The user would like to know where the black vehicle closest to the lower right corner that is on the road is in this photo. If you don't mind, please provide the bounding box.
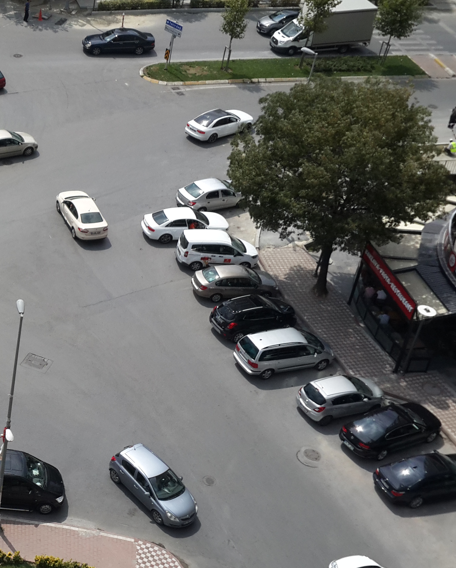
[370,446,456,510]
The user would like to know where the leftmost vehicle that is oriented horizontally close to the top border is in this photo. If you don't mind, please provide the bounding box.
[80,28,155,55]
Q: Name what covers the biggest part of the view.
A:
paved ground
